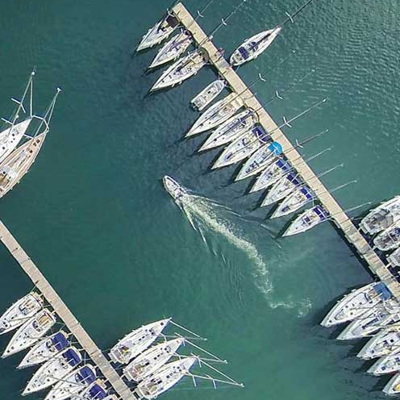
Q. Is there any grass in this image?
No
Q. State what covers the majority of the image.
water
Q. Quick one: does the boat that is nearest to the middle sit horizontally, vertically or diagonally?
diagonally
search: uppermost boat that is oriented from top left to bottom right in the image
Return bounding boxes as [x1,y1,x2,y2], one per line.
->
[163,175,183,203]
